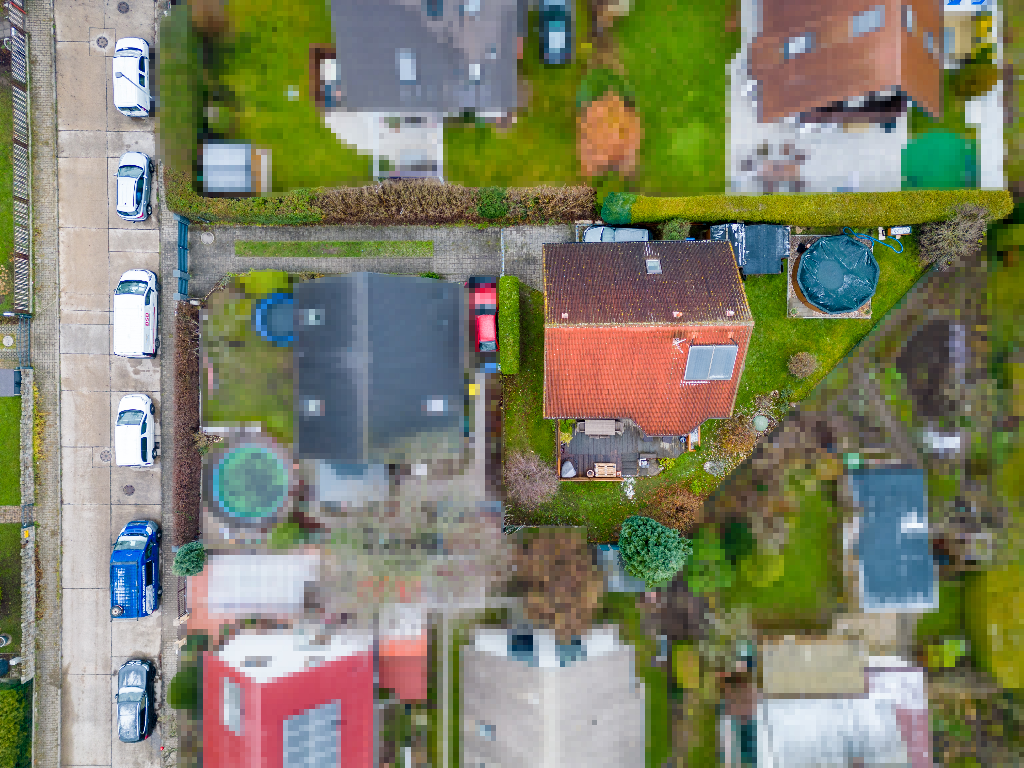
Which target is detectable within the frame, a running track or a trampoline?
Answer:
trampoline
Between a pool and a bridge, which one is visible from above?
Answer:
pool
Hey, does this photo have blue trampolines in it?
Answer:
Yes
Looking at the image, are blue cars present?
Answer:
Yes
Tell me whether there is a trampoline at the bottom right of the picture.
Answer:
No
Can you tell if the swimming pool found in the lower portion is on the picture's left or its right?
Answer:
left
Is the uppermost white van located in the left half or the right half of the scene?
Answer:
left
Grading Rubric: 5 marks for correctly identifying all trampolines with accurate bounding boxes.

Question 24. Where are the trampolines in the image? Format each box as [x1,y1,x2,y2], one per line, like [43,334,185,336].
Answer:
[254,297,293,342]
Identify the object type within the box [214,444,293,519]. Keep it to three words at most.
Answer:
swimming pool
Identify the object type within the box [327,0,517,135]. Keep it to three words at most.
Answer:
house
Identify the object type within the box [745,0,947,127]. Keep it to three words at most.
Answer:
house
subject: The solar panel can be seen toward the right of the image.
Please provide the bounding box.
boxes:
[684,339,740,383]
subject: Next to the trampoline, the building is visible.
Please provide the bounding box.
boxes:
[293,271,468,466]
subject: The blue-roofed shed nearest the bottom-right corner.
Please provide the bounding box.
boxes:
[840,468,939,609]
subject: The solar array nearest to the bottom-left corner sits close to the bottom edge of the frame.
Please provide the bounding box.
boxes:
[286,687,342,768]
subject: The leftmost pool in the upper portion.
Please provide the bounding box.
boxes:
[794,234,880,316]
